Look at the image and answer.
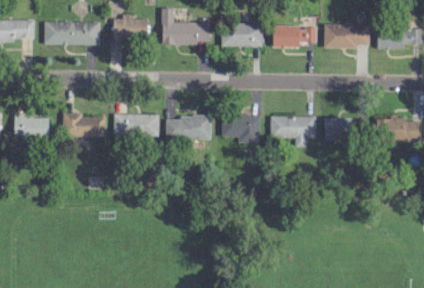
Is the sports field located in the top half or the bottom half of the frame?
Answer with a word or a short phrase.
bottom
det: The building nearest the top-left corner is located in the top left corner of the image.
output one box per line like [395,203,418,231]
[0,19,35,44]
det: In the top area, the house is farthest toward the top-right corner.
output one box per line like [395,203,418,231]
[378,28,422,49]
